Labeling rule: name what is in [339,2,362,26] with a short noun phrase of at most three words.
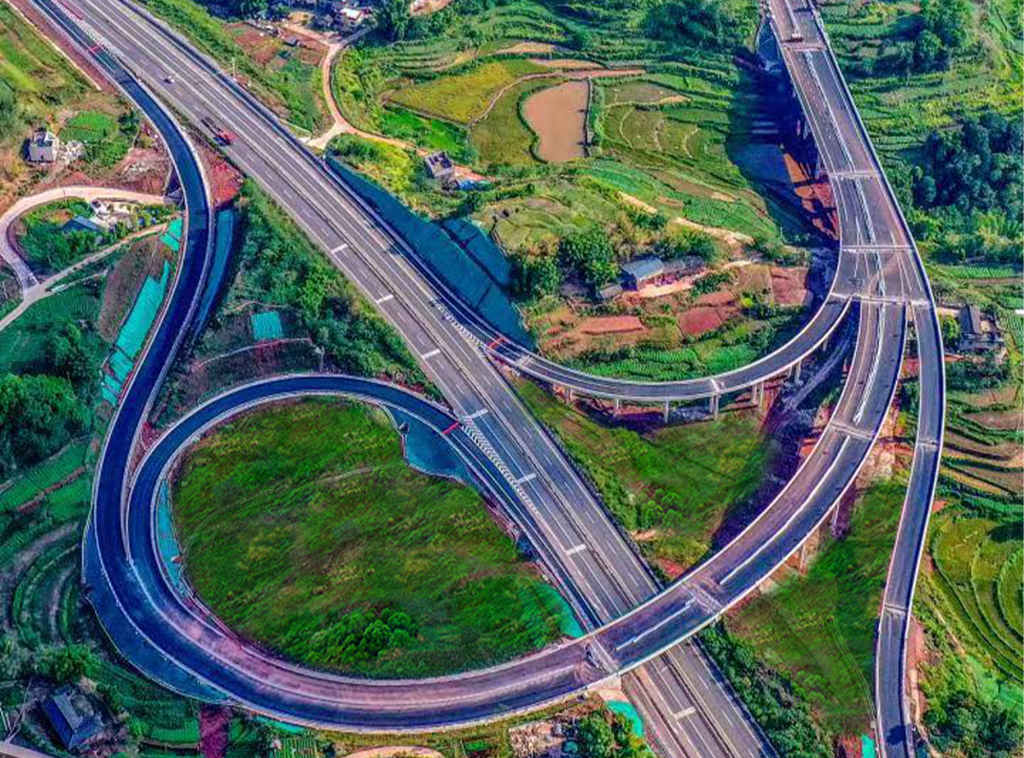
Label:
house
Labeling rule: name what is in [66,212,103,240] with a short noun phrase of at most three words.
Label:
house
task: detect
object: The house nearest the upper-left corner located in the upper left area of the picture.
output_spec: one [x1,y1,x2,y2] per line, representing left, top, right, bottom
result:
[27,133,56,158]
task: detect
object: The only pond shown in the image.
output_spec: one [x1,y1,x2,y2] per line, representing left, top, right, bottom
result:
[523,80,589,161]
